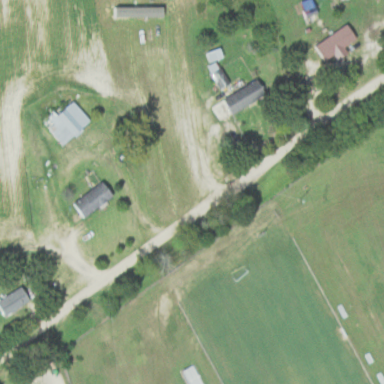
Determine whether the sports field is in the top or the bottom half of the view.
bottom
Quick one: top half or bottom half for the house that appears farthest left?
bottom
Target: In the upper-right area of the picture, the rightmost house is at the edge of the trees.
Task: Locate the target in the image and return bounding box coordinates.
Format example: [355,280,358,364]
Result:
[316,25,356,58]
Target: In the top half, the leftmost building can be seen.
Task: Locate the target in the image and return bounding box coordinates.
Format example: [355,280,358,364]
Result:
[42,103,88,148]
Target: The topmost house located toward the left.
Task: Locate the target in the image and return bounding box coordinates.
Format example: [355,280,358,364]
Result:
[114,4,163,22]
